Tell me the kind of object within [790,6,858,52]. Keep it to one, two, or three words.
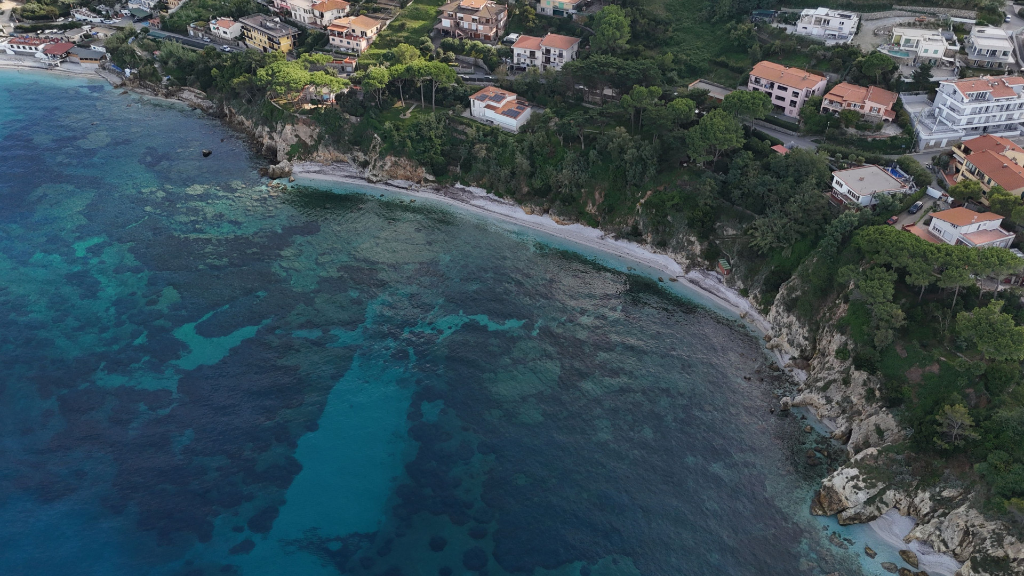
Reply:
house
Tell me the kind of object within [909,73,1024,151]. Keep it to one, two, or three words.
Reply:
building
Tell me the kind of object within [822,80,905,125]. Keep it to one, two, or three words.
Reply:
house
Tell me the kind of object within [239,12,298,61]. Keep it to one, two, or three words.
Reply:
building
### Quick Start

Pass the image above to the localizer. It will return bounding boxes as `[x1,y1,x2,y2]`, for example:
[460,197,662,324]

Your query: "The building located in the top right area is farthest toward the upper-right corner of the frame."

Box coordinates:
[969,23,1014,68]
